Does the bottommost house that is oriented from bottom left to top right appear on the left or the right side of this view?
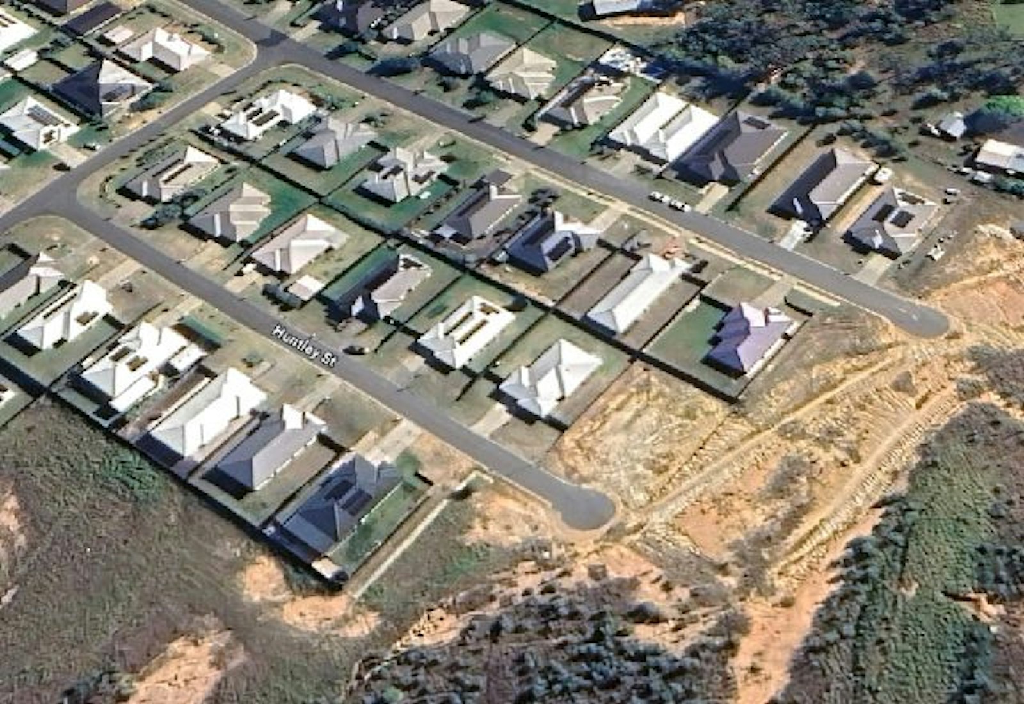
left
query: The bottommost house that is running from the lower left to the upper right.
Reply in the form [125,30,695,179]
[283,452,403,551]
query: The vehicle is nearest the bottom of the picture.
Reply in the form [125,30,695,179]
[346,341,367,355]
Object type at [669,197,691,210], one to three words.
vehicle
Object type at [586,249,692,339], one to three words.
house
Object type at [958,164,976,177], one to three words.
vehicle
